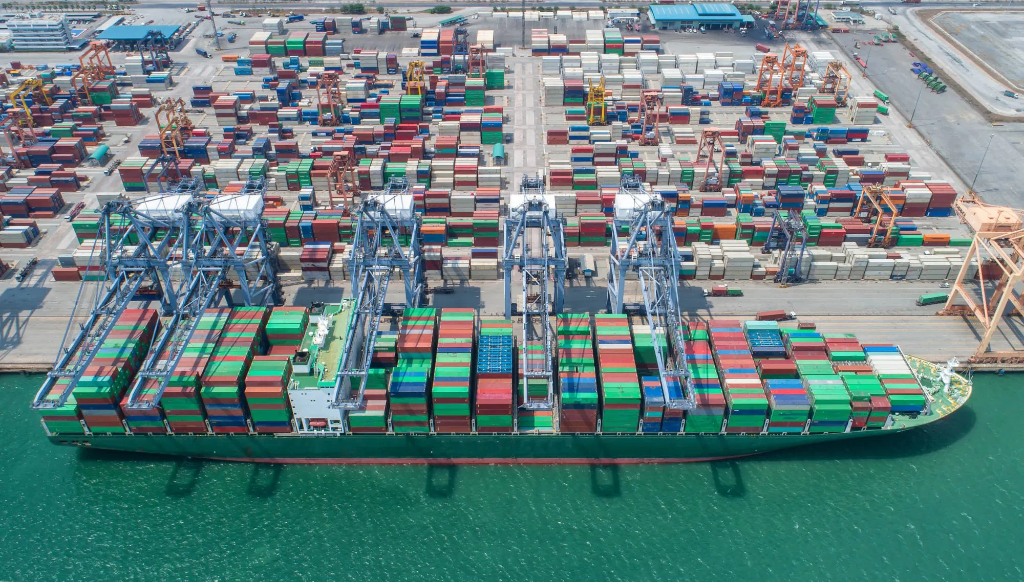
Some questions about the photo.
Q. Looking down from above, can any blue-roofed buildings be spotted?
Yes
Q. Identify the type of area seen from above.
port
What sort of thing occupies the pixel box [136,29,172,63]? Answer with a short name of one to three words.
crane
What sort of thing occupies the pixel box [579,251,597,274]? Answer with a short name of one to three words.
shed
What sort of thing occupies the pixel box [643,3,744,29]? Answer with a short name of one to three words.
building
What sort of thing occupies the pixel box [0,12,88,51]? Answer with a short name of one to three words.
building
